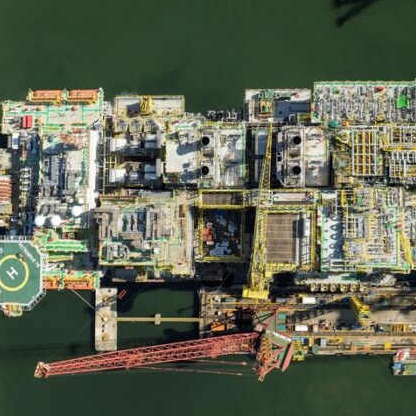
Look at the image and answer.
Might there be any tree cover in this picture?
No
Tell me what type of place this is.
port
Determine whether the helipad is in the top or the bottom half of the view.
bottom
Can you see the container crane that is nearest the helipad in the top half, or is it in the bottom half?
bottom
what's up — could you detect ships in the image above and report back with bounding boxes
[0,80,416,291]
[393,348,416,376]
